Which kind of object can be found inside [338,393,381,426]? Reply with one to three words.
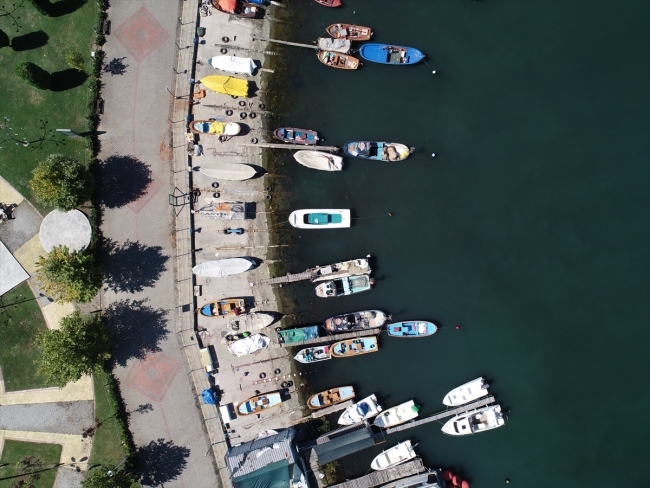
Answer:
boat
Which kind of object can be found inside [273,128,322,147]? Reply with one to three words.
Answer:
boat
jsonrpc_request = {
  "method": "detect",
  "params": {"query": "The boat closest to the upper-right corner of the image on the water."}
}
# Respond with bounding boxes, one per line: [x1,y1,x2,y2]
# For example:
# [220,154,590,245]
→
[359,43,425,66]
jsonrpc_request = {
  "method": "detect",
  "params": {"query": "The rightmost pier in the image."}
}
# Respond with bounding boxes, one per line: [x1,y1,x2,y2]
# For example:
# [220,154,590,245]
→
[385,394,496,435]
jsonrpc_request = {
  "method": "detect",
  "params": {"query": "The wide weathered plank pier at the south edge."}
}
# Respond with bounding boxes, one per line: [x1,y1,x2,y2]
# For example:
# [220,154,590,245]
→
[317,457,423,488]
